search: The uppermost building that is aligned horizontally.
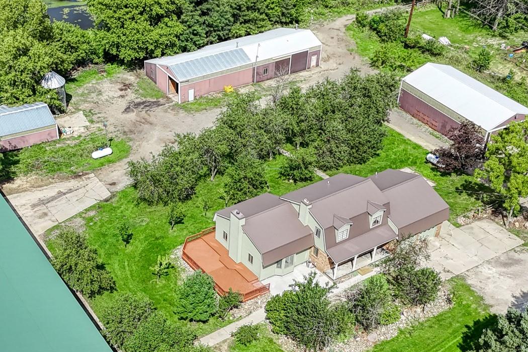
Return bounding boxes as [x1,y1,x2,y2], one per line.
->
[143,25,324,104]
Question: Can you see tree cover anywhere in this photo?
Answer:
Yes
